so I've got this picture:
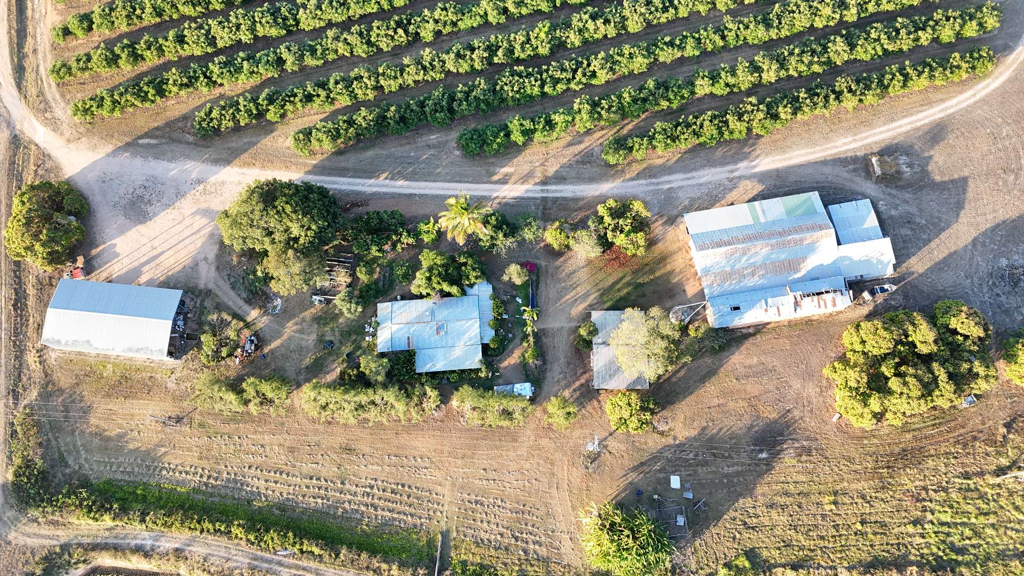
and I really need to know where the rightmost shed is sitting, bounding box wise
[679,191,895,331]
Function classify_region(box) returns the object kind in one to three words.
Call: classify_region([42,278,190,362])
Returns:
shed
